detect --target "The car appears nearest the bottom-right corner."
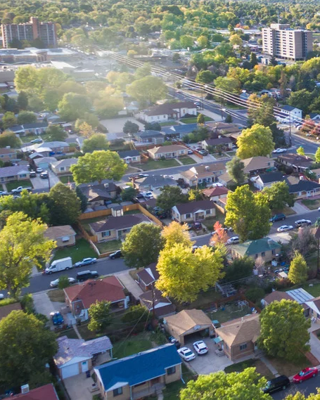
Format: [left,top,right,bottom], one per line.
[290,368,320,386]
